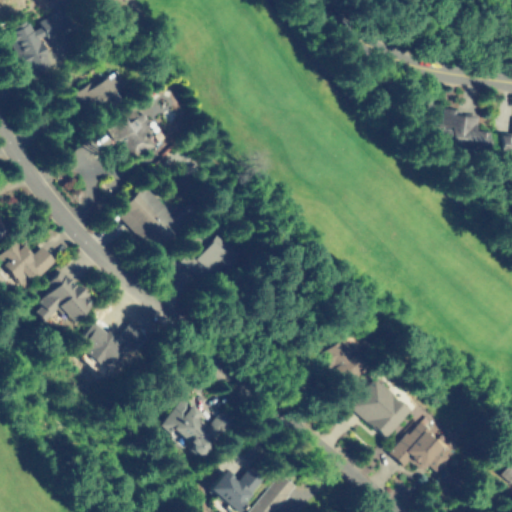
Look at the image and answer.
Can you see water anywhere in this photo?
No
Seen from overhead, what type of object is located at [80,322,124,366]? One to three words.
house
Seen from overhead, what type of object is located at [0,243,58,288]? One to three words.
house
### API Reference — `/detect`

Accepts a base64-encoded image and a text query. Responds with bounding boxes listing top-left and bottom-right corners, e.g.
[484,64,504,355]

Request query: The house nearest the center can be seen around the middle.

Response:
[193,237,240,279]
